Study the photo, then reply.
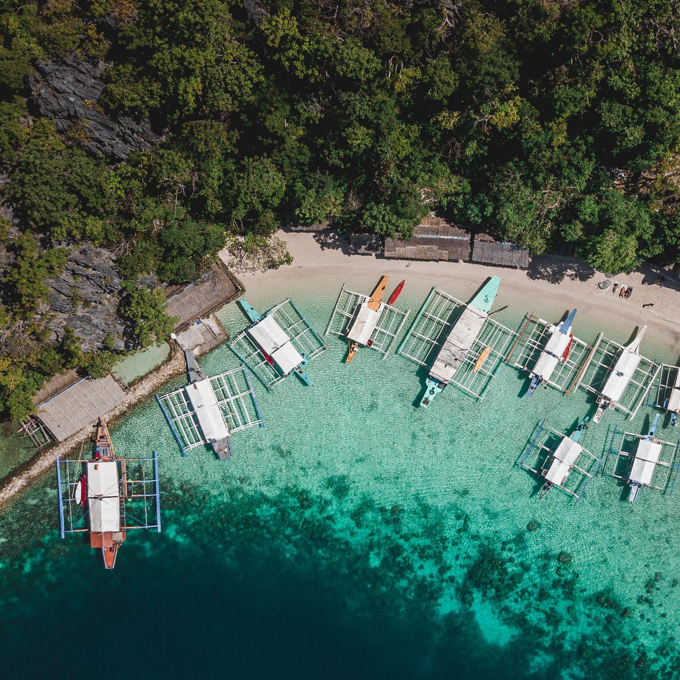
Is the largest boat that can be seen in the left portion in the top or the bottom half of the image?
bottom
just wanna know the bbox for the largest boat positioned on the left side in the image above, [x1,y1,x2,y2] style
[55,416,161,605]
